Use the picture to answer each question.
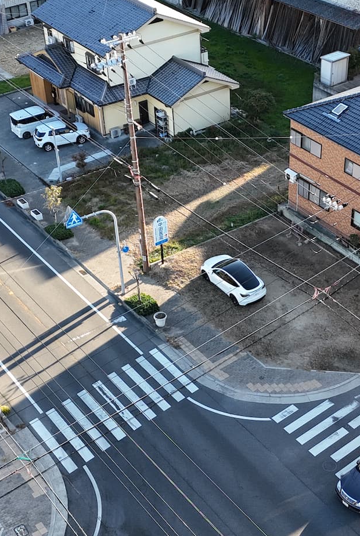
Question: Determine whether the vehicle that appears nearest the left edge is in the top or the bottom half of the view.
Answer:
top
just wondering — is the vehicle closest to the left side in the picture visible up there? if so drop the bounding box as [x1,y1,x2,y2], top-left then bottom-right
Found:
[11,107,56,135]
